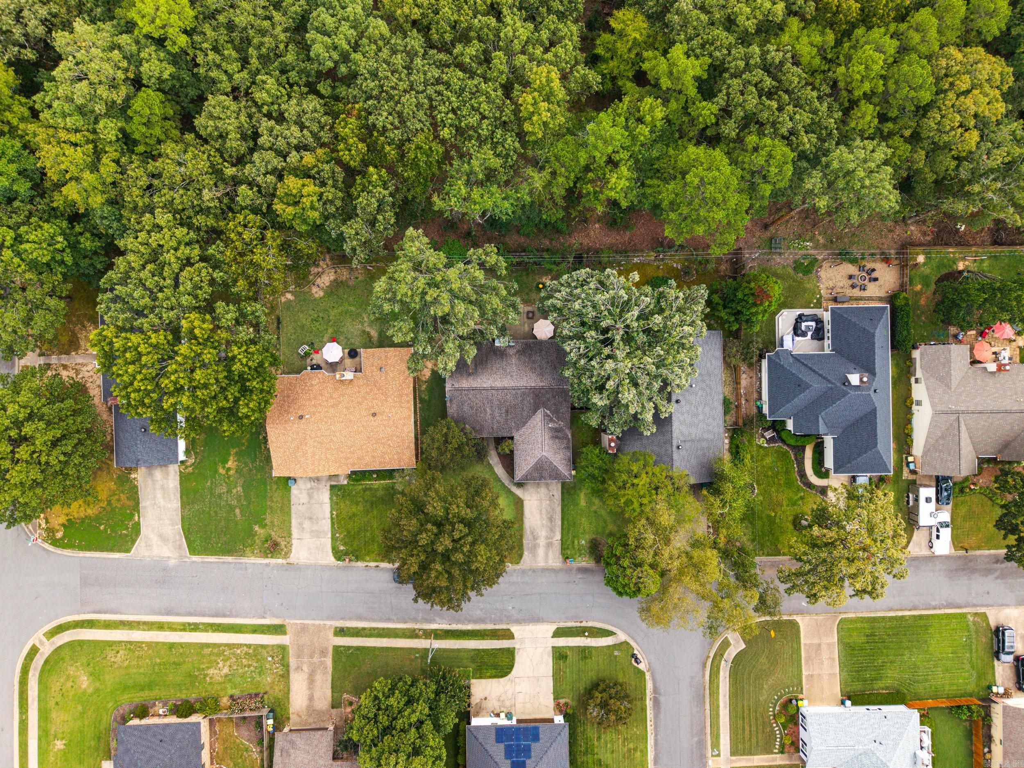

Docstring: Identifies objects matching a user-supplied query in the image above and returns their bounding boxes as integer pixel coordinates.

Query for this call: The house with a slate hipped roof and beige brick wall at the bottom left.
[113,714,209,768]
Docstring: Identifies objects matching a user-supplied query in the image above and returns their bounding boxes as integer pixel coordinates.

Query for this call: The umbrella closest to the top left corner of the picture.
[323,342,343,362]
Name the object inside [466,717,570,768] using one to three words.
house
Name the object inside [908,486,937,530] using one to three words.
vehicle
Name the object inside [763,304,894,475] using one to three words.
house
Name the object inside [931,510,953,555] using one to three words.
truck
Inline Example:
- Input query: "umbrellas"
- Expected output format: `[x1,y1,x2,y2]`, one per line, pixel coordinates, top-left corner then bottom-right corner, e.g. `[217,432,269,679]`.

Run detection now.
[323,342,343,362]
[533,319,552,340]
[991,319,1015,342]
[970,341,993,361]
